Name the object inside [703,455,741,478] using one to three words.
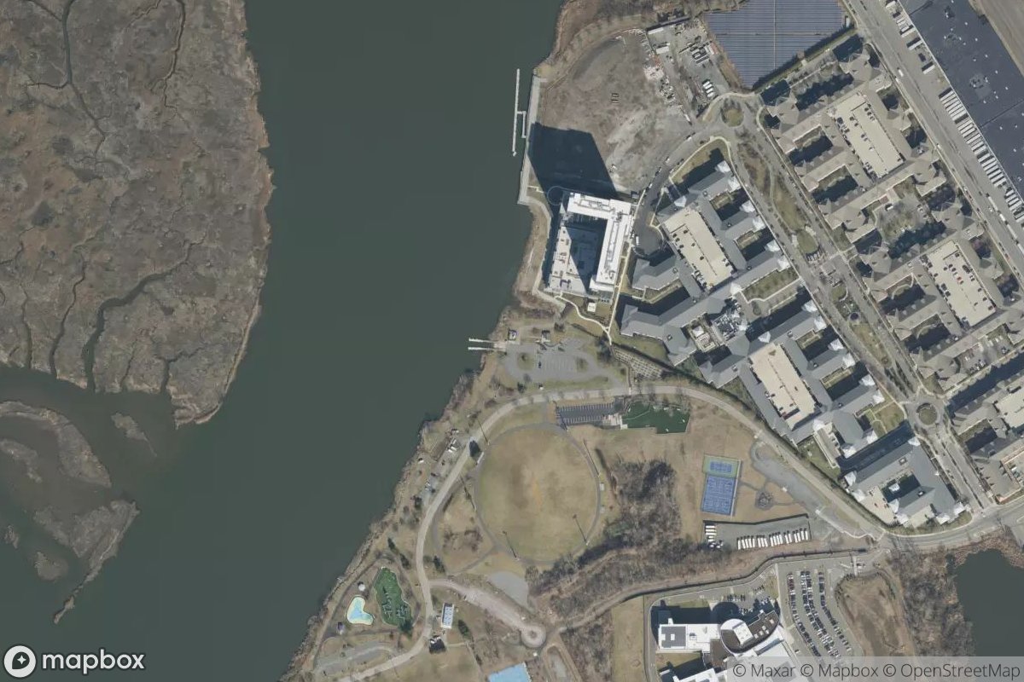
sports court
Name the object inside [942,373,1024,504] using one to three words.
building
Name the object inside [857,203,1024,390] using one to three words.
building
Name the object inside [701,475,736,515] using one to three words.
tennis court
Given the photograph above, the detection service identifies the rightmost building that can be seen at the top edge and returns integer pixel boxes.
[898,0,1024,207]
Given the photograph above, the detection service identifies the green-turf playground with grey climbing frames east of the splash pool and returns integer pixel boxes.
[375,569,412,626]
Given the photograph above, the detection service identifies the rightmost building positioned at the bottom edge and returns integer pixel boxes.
[655,611,803,682]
